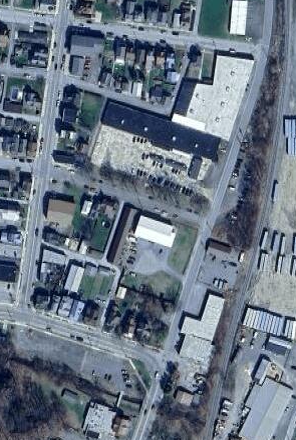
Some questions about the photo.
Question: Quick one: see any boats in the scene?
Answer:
No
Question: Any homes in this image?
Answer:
Yes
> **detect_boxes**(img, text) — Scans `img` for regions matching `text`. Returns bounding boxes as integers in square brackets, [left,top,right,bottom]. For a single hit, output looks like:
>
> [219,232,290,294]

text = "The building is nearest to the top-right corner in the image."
[229,0,247,35]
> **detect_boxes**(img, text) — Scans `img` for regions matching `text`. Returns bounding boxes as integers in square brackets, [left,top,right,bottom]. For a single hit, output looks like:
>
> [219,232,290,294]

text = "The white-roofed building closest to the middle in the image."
[135,214,177,248]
